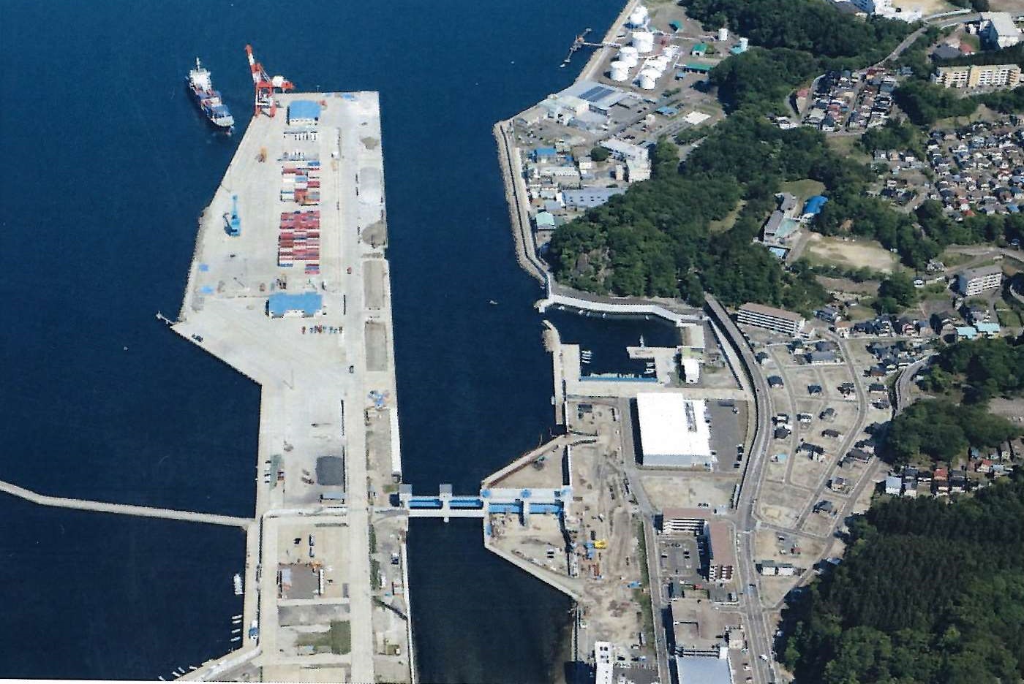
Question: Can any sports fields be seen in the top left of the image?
No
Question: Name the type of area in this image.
port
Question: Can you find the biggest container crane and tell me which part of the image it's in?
top left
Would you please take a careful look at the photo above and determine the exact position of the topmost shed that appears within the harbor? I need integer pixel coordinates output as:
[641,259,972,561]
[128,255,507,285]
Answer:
[683,359,699,386]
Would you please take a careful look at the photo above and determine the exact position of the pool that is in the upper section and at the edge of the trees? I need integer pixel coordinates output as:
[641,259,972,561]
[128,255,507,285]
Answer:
[773,246,789,259]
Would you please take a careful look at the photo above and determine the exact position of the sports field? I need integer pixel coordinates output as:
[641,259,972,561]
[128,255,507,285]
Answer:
[796,236,899,272]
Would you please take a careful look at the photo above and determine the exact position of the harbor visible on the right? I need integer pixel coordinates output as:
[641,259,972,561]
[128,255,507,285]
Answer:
[539,295,749,424]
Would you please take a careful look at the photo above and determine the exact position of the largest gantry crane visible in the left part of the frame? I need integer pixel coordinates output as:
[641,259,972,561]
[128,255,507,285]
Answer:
[244,45,295,118]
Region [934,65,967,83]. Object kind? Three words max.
building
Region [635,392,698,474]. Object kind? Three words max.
building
